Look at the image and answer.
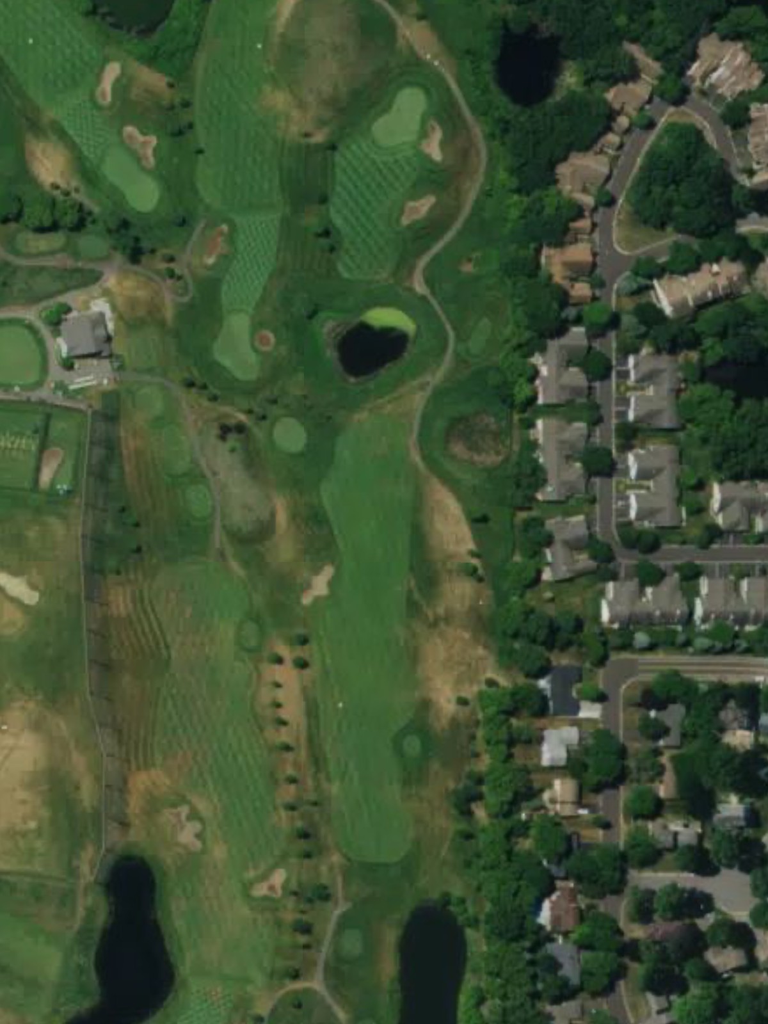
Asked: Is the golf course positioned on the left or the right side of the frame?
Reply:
left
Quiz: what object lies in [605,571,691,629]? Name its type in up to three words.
house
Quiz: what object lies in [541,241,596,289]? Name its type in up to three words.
house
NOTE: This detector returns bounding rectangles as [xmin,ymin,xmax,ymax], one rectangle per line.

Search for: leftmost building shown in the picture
[58,300,114,357]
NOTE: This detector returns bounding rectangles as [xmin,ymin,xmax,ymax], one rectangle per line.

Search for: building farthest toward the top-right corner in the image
[682,29,768,97]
